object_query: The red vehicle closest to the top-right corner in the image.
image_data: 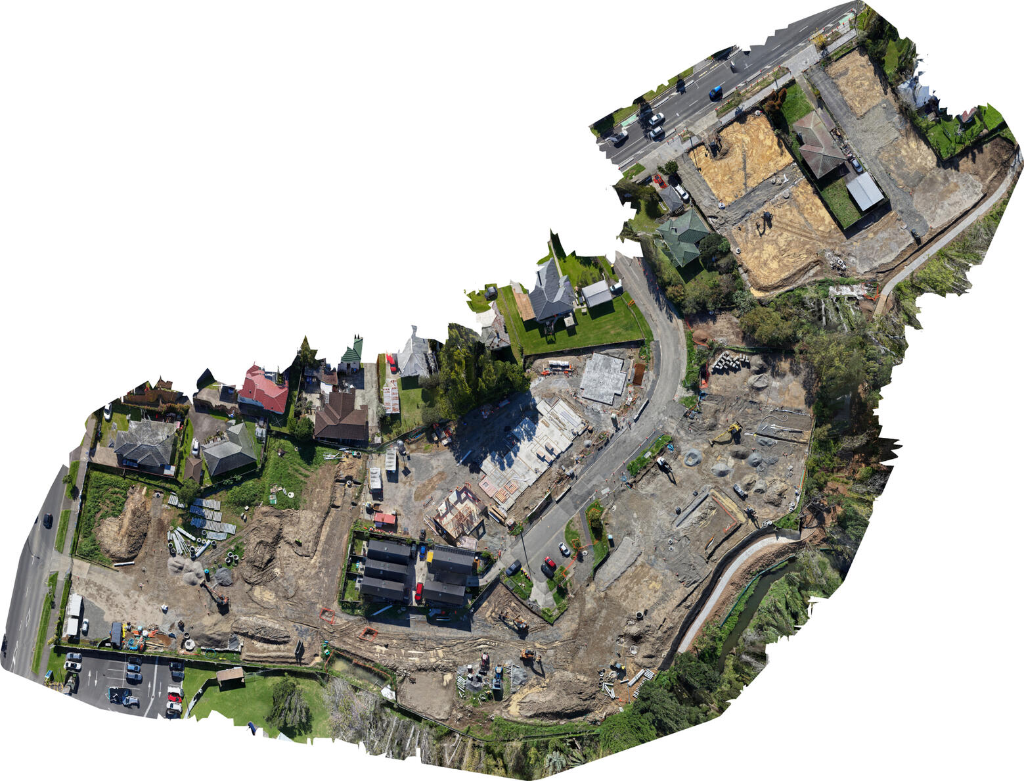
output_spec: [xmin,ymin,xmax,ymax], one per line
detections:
[653,173,666,189]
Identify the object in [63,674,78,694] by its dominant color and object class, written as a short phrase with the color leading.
gray vehicle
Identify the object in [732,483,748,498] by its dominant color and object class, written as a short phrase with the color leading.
gray vehicle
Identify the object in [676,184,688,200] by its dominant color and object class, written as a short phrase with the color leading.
white vehicle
